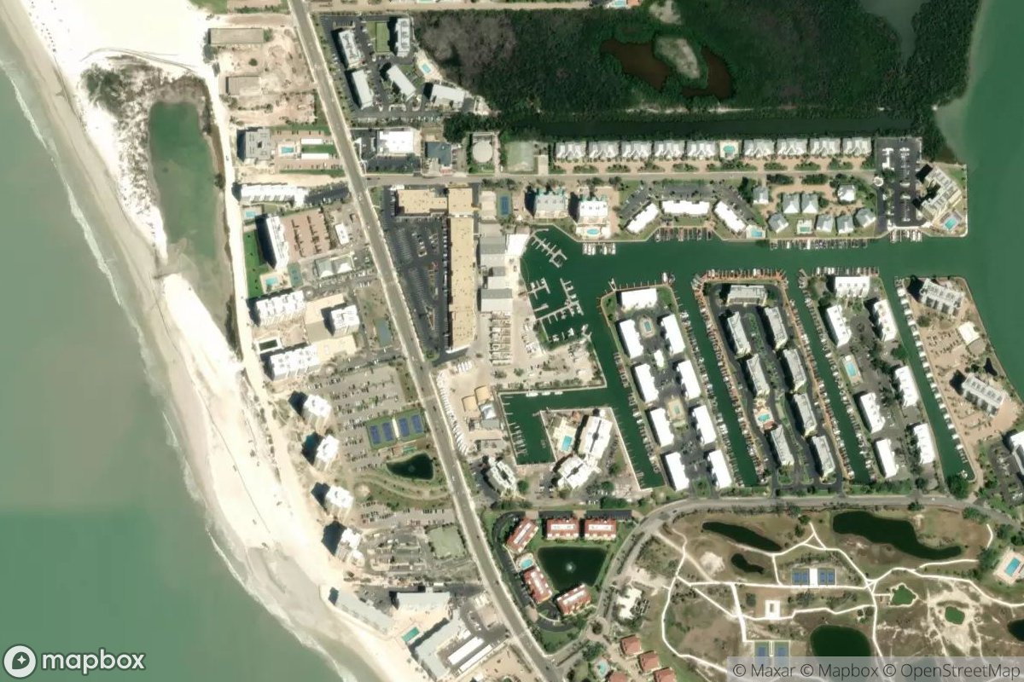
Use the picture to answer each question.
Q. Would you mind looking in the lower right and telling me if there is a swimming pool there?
Yes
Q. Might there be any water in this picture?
Yes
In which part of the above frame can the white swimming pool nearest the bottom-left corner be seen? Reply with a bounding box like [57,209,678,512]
[255,334,282,354]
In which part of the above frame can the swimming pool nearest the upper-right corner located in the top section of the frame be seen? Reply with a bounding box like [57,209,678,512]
[940,210,962,233]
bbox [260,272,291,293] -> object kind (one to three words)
swimming pool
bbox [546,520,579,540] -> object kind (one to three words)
building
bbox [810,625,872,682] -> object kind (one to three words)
pond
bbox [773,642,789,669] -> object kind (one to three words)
tennis court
